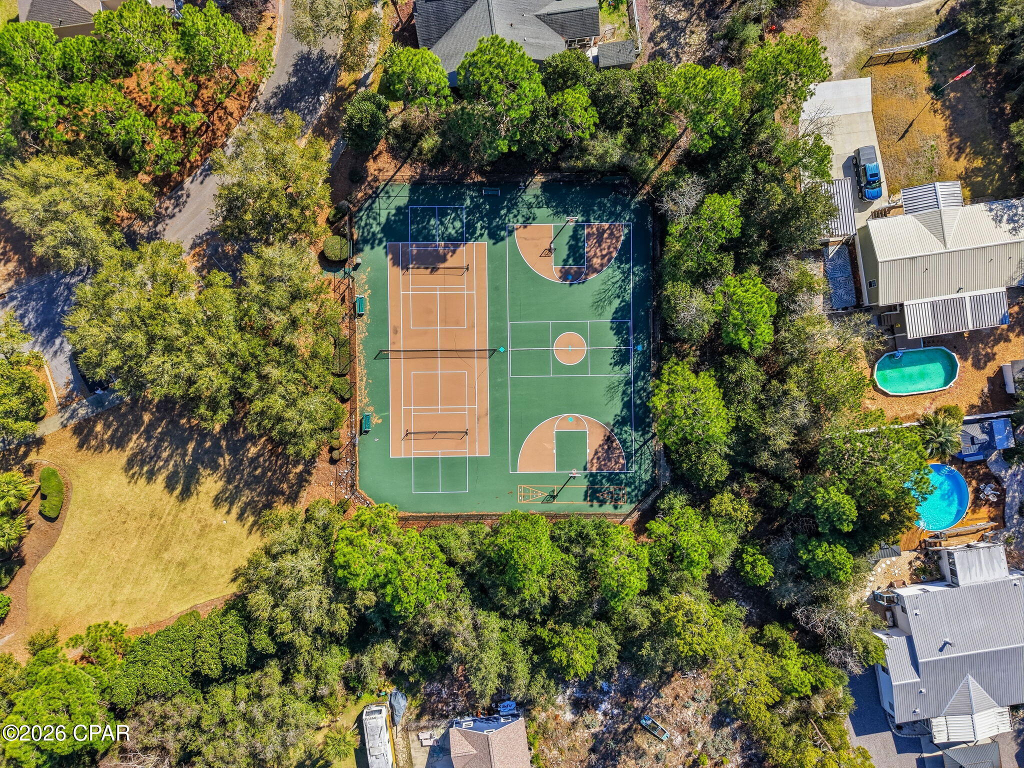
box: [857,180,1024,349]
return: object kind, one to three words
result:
house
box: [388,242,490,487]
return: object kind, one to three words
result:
tennis court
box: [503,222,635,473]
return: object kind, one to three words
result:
basketball court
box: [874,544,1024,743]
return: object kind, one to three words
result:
house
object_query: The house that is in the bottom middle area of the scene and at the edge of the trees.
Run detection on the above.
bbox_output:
[449,712,528,768]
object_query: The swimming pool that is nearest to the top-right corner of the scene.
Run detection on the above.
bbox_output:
[868,346,960,395]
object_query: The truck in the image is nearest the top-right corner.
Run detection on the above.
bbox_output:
[854,147,884,204]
